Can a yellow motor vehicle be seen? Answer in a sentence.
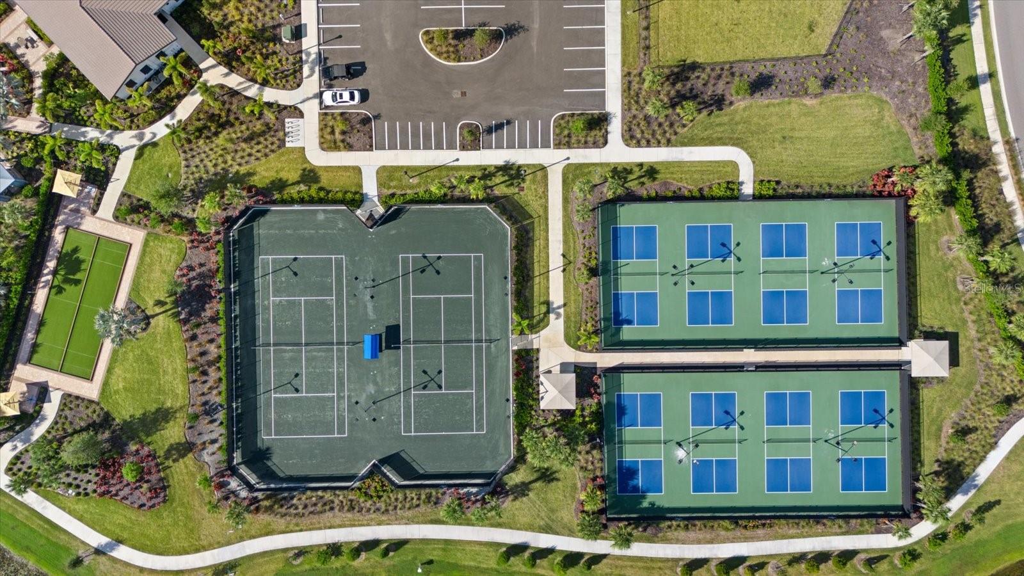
No, the picture doesn't show any yellow motor vehicle.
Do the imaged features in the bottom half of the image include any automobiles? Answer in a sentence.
No, no automobile appears in the bottom half of the image.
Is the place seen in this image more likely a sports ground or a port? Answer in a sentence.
It's a sports ground.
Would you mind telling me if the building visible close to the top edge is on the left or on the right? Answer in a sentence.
The building visible close to the top edge appears in the left half of the scene.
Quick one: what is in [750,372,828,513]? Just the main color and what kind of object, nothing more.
green sports court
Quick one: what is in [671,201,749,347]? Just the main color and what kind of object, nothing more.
green sports court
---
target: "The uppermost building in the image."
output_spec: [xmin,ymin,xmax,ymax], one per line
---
[18,0,185,103]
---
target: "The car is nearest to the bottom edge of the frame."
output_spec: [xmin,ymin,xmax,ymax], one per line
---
[322,88,360,106]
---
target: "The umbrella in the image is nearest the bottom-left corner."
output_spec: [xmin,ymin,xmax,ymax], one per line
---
[0,391,37,417]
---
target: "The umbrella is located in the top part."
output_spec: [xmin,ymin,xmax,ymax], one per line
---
[53,169,96,197]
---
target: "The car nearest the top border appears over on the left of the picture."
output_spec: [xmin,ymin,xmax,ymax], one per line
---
[320,62,352,81]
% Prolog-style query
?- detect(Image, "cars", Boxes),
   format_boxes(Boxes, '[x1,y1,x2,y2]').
[320,62,352,81]
[322,88,360,106]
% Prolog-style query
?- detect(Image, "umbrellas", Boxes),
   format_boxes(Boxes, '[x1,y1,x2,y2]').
[53,169,96,197]
[0,391,37,417]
